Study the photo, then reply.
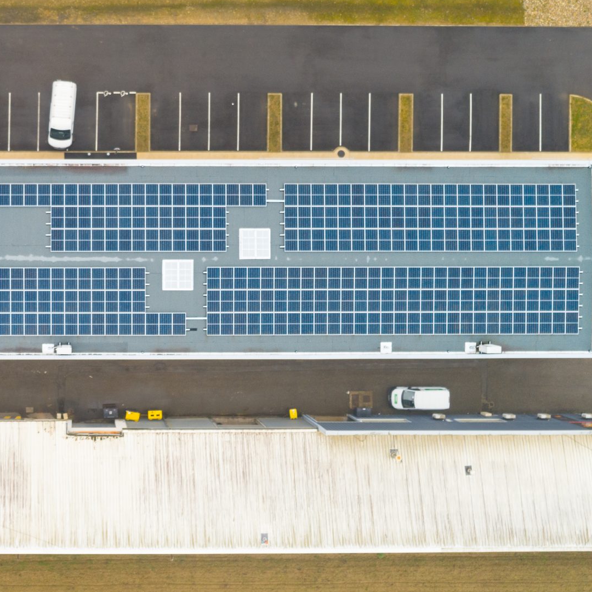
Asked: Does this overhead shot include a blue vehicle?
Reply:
No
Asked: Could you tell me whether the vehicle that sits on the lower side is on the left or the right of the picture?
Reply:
right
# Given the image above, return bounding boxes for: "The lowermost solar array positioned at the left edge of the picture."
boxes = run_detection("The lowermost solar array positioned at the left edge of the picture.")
[0,267,190,335]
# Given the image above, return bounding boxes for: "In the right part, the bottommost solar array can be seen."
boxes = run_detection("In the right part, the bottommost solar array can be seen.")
[203,267,583,335]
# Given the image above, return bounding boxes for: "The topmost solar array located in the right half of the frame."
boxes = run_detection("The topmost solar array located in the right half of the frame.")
[281,184,580,251]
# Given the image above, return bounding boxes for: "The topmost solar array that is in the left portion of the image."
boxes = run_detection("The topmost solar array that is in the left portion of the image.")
[0,184,271,251]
